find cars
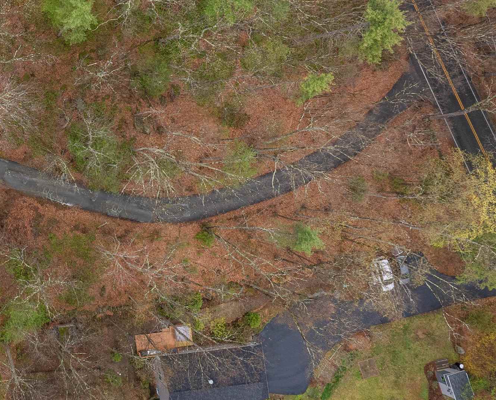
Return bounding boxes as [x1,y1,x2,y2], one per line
[392,255,410,284]
[370,256,393,290]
